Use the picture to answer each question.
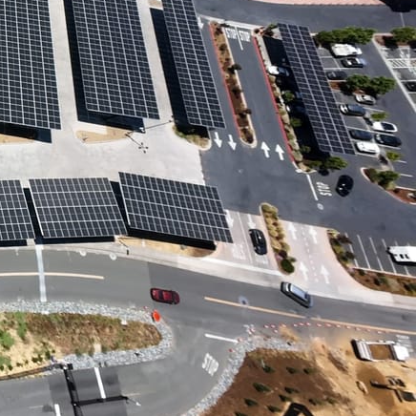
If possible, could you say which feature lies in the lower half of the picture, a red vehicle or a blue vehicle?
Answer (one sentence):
The feature located in the lower half of the picture is a red vehicle.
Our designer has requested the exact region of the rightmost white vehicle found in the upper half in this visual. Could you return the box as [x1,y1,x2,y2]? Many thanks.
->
[370,120,399,134]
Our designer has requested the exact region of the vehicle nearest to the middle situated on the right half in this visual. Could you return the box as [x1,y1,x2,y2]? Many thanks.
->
[247,229,271,256]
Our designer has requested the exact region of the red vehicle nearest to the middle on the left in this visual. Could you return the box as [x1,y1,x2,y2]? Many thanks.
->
[149,287,179,305]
